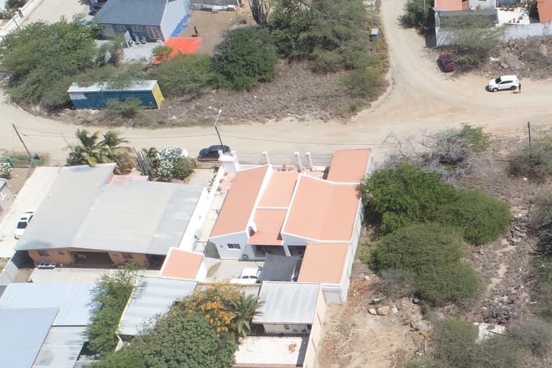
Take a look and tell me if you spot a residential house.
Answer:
Yes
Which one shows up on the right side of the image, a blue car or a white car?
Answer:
white car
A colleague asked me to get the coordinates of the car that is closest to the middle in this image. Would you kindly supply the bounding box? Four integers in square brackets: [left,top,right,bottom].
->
[195,142,233,161]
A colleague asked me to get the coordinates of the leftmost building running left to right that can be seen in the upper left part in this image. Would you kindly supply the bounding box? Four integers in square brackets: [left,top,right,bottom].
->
[94,0,190,42]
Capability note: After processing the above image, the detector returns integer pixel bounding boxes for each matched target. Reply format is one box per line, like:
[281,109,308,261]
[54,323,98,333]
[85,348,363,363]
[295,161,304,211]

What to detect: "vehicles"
[486,74,519,93]
[86,0,104,15]
[438,53,456,74]
[219,267,271,288]
[195,142,233,161]
[9,212,37,241]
